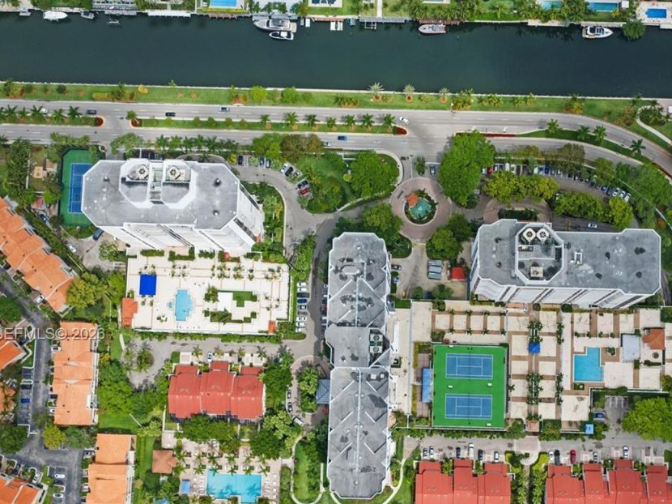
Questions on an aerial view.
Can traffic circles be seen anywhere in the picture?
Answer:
Yes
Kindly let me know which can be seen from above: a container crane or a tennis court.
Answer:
tennis court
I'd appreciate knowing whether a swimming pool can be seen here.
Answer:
Yes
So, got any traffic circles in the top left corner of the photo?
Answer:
No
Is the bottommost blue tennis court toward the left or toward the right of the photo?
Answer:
right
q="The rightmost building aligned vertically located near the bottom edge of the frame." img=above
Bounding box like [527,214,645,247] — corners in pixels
[328,366,393,499]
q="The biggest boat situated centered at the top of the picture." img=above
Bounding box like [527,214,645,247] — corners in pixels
[252,16,298,32]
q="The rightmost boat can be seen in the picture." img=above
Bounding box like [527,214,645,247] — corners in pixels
[581,26,614,38]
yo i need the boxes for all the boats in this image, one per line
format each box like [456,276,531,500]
[269,31,295,40]
[81,12,95,20]
[418,24,446,33]
[581,26,614,38]
[252,16,298,32]
[44,11,69,20]
[20,10,32,17]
